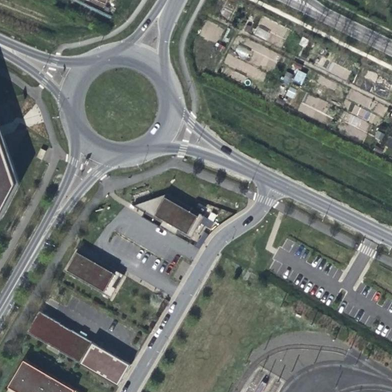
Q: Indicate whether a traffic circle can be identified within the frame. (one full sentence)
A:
Yes, there is a traffic circle in the image.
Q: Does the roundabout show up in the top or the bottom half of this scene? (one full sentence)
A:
Seen from above, the roundabout lies in the top half of the view.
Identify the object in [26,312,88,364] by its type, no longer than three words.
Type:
building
